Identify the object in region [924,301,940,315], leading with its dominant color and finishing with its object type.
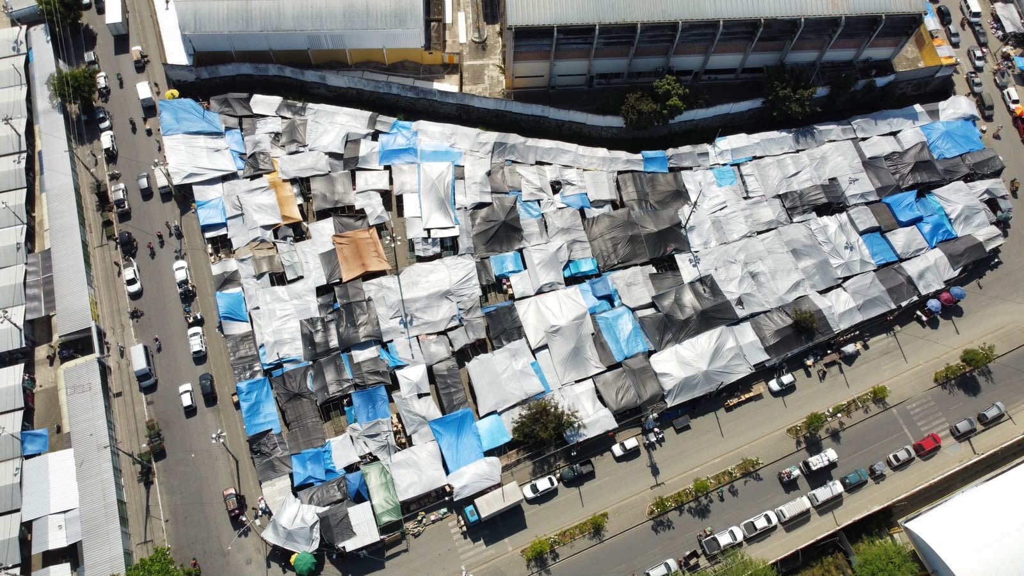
blue umbrella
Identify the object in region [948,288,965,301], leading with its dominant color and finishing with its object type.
blue umbrella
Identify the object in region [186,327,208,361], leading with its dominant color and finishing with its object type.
white car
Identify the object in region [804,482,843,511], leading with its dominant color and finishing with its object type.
white vehicle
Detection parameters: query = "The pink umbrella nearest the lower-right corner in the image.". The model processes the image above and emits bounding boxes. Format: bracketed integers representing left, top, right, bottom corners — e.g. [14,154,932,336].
[938,293,954,307]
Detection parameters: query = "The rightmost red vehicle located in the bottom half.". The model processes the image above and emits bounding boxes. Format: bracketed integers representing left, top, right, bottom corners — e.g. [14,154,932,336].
[910,434,942,456]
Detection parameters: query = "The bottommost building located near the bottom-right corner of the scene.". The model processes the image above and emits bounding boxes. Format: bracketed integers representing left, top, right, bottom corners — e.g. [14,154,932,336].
[876,457,1024,576]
